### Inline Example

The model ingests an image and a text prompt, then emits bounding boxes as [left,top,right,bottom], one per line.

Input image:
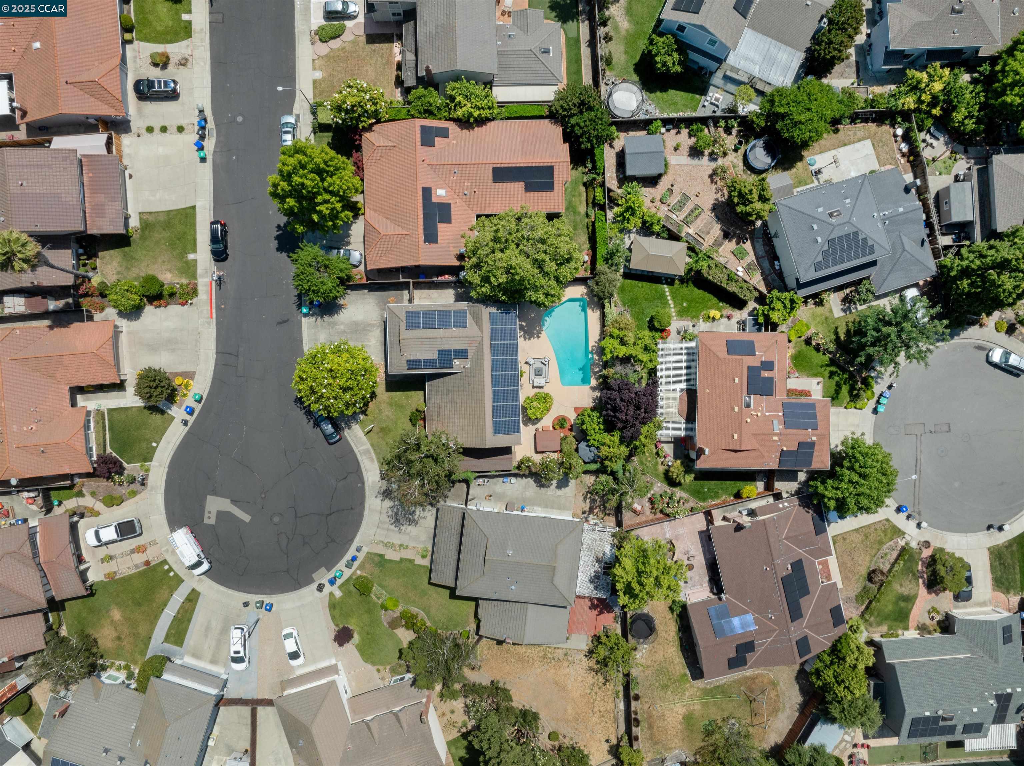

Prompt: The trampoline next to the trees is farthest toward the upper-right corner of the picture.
[744,136,780,169]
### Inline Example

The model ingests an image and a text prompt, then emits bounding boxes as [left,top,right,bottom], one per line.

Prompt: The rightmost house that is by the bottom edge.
[865,609,1024,745]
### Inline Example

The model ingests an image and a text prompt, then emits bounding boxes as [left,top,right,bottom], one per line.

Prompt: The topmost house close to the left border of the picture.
[0,0,134,128]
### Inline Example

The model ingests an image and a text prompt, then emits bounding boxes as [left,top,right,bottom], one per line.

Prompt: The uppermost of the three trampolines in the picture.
[607,76,646,118]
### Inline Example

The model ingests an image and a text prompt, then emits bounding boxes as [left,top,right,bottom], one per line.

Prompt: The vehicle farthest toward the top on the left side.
[322,0,364,22]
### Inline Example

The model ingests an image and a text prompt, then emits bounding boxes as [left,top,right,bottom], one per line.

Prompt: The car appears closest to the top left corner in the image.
[135,77,183,101]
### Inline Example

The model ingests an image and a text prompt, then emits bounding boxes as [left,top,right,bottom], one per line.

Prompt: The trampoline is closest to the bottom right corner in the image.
[629,615,658,644]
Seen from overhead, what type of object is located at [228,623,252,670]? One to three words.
car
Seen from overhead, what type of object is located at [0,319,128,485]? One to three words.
house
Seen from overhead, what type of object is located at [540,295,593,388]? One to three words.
swimming pool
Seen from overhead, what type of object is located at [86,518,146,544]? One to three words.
truck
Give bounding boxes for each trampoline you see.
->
[607,76,646,118]
[744,136,780,169]
[629,615,658,644]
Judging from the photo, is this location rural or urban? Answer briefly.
urban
